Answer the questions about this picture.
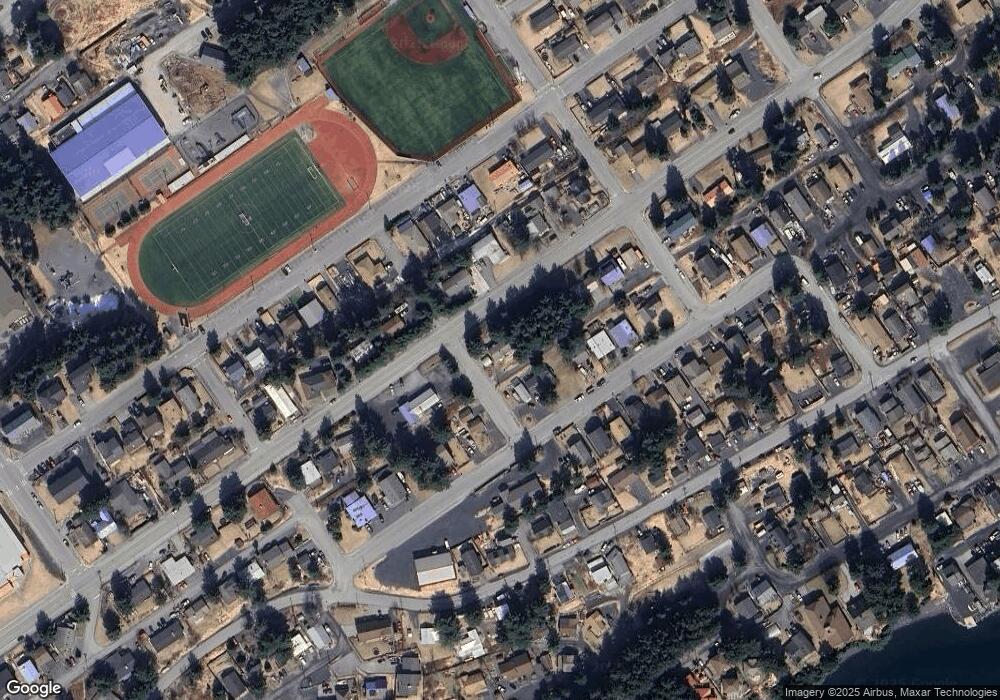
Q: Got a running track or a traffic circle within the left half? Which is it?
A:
running track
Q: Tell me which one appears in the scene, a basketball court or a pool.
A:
basketball court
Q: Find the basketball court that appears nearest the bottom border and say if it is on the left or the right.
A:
left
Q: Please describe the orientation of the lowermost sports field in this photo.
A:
on a diagonal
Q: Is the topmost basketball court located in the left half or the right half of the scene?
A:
left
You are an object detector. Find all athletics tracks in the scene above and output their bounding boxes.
[118,99,376,319]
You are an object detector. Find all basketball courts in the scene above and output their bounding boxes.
[130,149,187,201]
[82,180,141,236]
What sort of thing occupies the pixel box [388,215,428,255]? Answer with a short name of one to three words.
house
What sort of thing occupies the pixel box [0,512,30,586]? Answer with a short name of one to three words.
building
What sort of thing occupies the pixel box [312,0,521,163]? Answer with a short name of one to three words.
baseball field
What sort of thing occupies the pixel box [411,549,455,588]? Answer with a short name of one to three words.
shed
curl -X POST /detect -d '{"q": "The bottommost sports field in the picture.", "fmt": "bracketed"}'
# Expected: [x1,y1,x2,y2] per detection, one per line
[139,129,347,307]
